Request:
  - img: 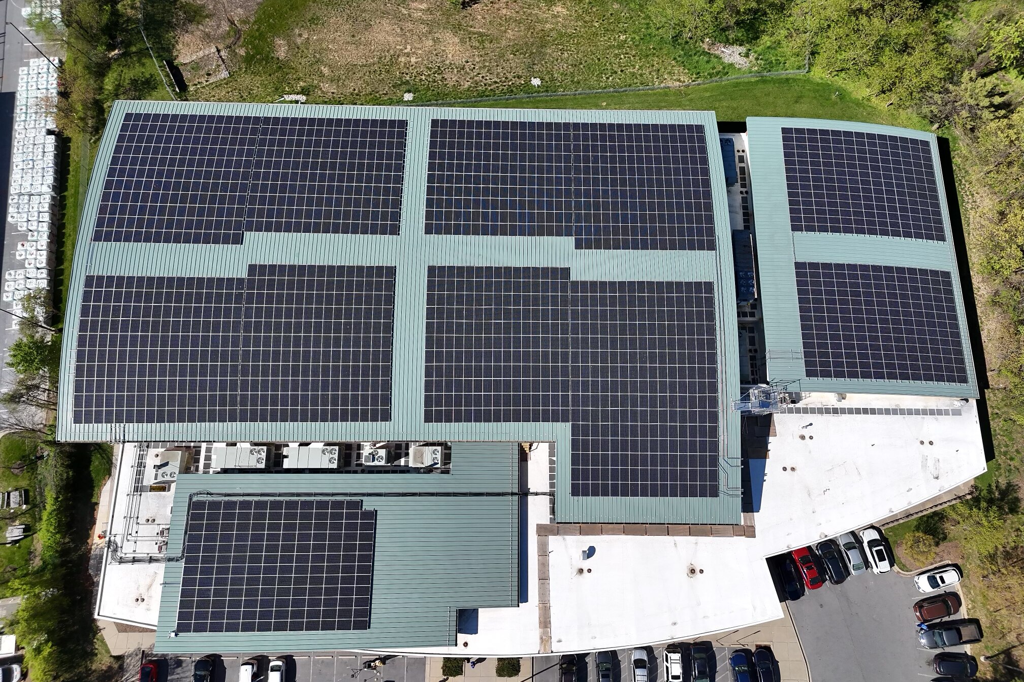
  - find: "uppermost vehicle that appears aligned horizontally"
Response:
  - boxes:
[913,567,965,591]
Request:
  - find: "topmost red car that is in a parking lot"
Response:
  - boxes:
[793,549,820,590]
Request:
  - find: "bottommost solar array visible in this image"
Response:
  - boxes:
[176,499,374,633]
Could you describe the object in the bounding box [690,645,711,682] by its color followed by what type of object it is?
black car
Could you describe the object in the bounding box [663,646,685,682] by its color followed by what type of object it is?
white car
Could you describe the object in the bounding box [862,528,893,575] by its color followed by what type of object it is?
white car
